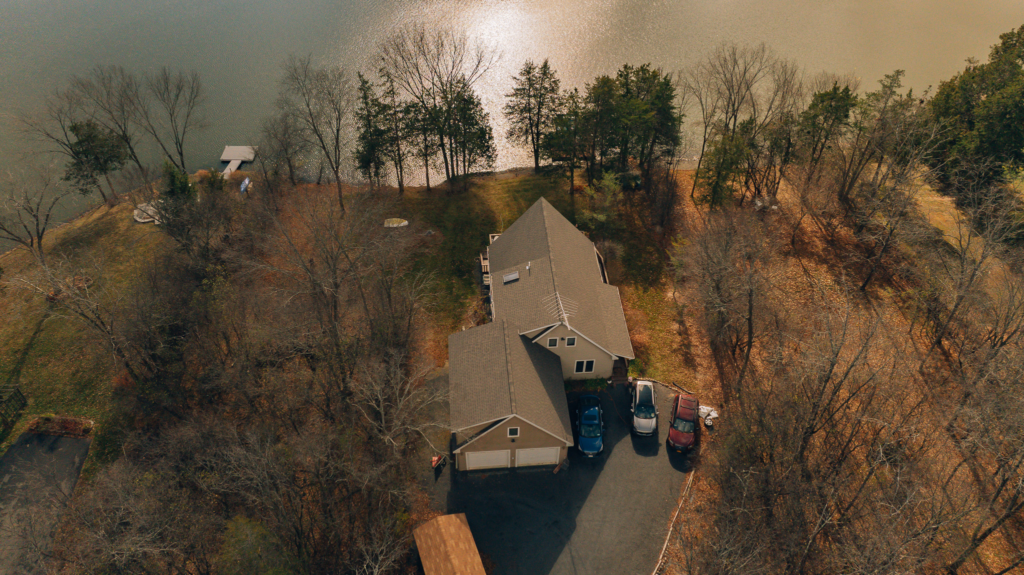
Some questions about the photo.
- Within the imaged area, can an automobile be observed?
Yes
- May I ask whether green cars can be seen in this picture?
No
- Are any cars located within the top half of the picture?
No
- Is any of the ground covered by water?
Yes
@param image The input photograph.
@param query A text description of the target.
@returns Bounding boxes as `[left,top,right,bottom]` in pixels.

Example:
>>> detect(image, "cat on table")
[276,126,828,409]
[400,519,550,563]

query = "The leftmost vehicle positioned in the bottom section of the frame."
[574,391,608,458]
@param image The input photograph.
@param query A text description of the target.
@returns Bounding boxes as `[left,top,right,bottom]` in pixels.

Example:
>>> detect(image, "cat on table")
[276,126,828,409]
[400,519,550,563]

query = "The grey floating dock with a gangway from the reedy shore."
[222,143,259,180]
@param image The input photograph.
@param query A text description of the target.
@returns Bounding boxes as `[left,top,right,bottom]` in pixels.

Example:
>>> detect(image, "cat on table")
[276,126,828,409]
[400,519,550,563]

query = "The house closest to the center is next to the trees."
[448,197,636,475]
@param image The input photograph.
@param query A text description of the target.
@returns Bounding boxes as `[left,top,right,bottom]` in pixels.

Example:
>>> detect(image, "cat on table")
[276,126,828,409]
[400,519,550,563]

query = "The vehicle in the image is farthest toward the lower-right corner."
[665,390,705,456]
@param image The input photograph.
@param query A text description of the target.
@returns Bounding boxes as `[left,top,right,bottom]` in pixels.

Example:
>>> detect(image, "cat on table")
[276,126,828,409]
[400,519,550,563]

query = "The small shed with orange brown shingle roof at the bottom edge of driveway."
[413,513,486,575]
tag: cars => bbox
[629,378,663,438]
[574,391,608,458]
[665,390,705,456]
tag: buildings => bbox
[413,513,486,575]
[448,197,636,475]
